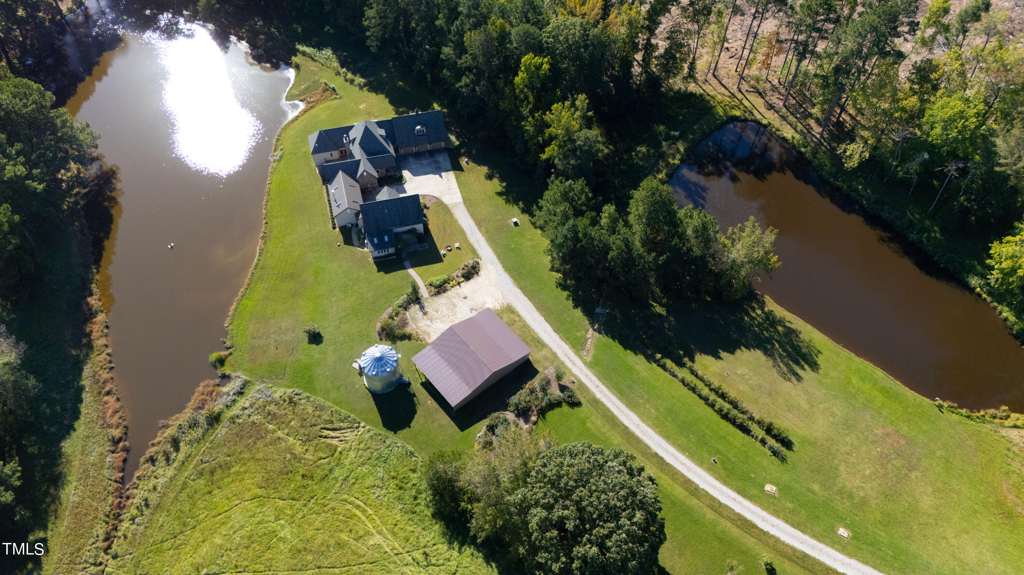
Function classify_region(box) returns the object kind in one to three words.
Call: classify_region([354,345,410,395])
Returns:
silo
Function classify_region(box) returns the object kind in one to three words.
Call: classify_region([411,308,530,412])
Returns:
barn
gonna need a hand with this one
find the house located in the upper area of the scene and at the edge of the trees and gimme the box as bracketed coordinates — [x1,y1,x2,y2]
[307,106,446,258]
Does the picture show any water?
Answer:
Yes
